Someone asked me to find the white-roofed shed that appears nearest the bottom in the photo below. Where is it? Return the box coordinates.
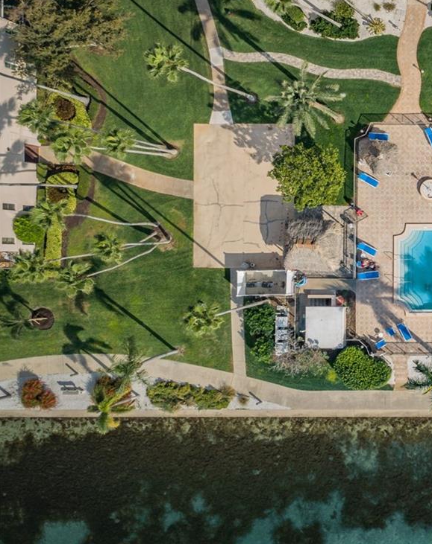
[306,308,350,347]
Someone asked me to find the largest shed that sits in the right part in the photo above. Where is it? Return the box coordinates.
[281,212,349,282]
